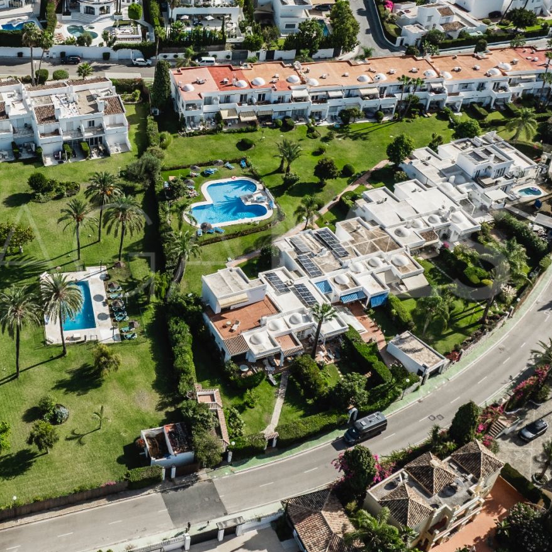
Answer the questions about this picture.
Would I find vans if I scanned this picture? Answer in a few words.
Yes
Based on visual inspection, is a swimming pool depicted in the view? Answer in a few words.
Yes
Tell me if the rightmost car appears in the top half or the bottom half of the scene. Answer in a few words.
bottom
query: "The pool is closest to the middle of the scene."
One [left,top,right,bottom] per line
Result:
[188,177,271,228]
